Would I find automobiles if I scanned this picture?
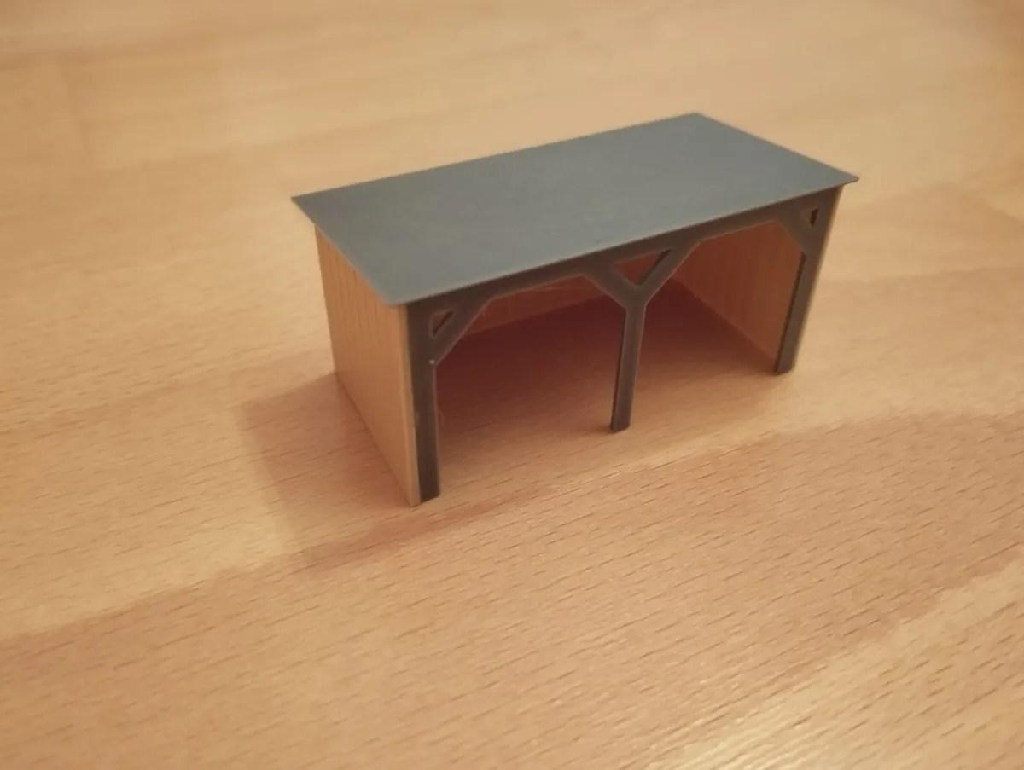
No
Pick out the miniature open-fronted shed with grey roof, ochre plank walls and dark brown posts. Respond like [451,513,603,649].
[293,113,858,505]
